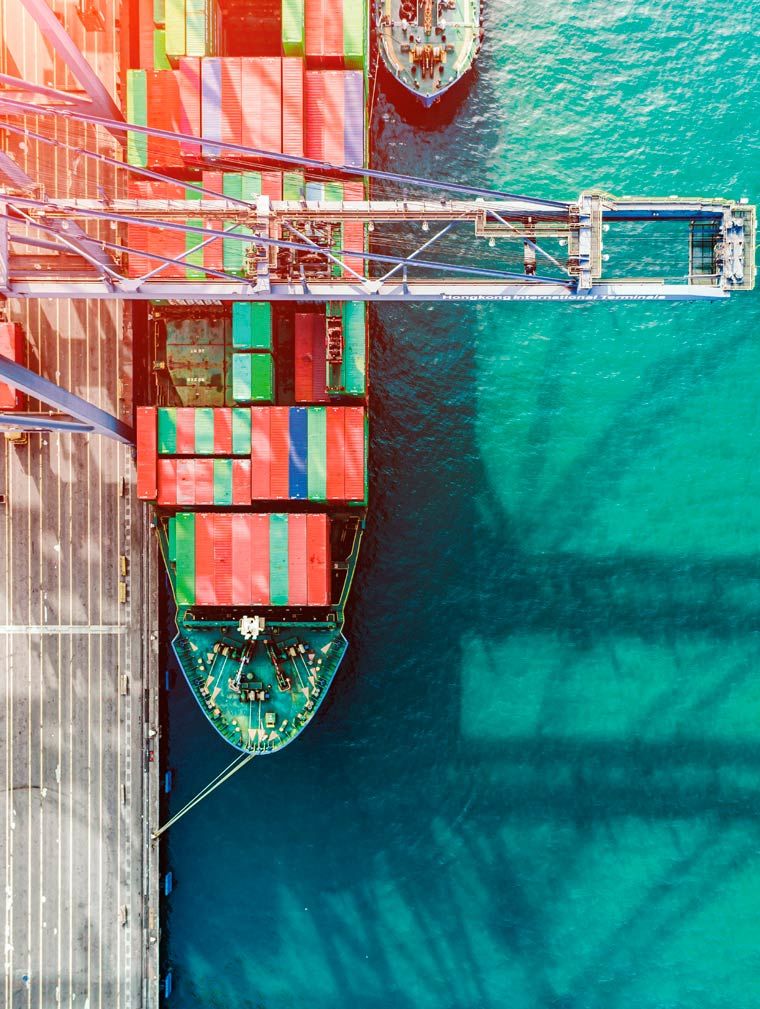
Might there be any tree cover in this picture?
No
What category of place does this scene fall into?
port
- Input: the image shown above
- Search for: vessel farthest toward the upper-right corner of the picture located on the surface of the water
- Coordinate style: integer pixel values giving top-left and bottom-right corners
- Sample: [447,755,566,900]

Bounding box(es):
[378,0,480,107]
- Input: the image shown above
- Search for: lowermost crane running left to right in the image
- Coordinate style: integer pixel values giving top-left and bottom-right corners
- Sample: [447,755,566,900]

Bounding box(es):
[0,97,759,449]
